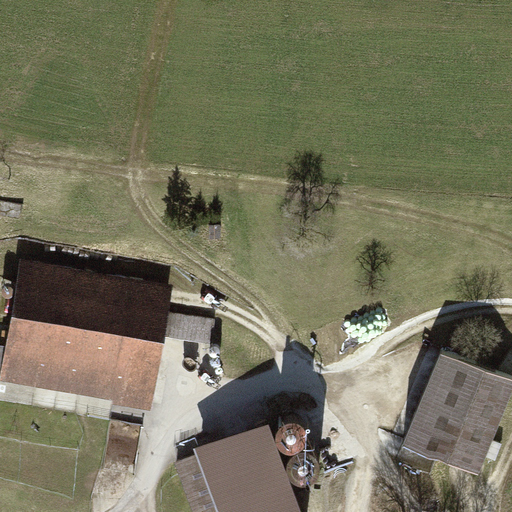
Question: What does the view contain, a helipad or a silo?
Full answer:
Of the two, only a silo appears.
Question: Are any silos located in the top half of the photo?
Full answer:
No, the scene shows no silo in the top half of the photo.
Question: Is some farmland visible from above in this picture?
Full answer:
Yes, farmland shows up in the scene.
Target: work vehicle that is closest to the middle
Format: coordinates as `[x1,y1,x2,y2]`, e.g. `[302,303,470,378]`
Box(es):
[200,290,230,313]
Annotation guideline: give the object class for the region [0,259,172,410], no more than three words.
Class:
barn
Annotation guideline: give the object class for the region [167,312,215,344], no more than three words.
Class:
shed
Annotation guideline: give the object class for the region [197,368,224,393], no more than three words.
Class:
work vehicle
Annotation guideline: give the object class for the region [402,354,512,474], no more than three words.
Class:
barn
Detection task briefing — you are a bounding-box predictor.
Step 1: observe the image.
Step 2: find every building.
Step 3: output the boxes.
[175,426,300,512]
[0,259,172,410]
[209,224,220,240]
[402,354,512,474]
[167,312,215,344]
[0,200,21,218]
